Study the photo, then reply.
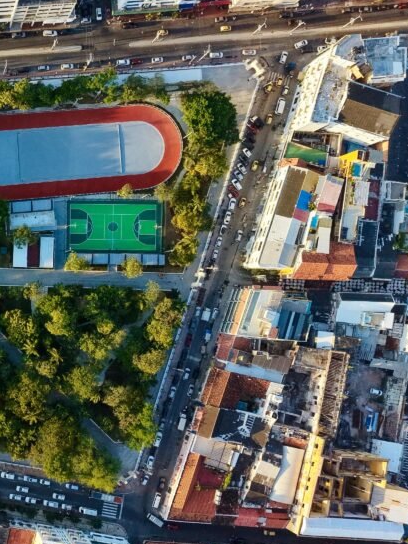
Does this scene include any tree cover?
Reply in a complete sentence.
Yes, the picture does contain tree cover.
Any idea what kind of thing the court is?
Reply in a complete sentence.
It turns out the court is a basketball court.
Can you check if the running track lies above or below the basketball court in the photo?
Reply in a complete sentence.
The running track is located above the basketball court in this view.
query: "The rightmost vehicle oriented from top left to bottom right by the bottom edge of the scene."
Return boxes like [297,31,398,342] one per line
[146,513,162,526]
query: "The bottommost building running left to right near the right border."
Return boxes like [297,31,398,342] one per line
[299,514,404,542]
